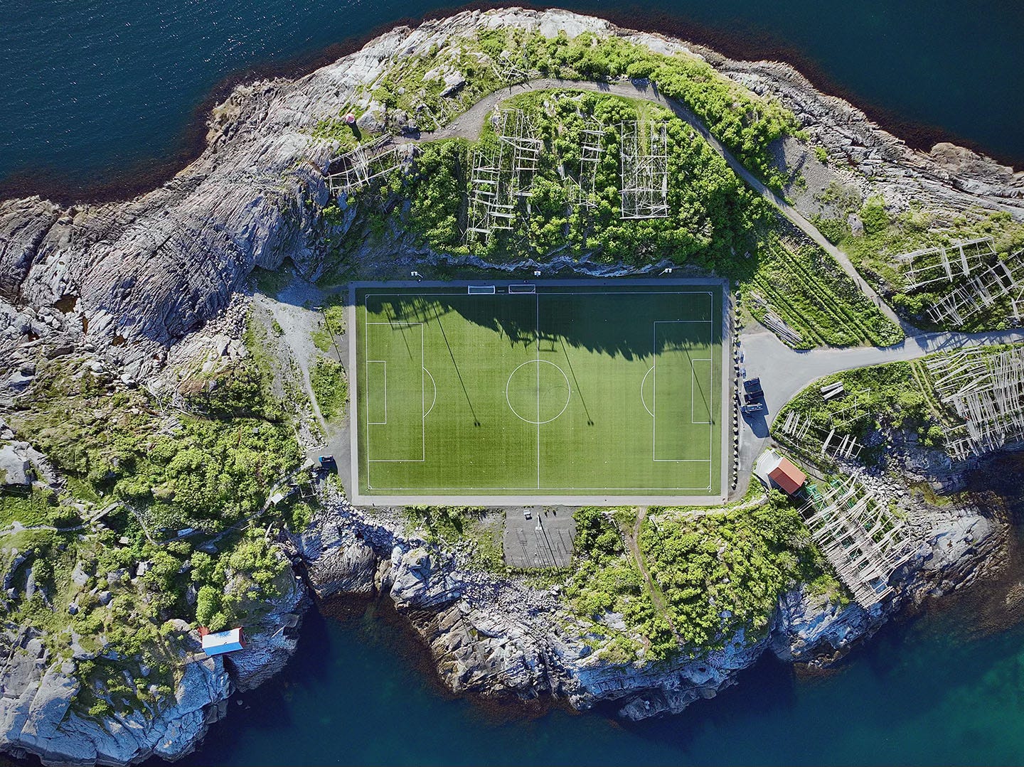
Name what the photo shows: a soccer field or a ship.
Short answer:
soccer field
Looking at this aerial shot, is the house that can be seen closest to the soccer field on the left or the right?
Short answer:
right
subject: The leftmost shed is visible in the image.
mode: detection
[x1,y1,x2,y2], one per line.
[199,625,247,655]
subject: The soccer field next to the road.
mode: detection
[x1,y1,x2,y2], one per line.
[349,279,729,505]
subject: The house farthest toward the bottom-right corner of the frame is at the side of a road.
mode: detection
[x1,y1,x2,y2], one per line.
[755,447,807,495]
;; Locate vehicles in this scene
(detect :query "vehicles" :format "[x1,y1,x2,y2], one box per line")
[740,403,766,414]
[744,379,762,389]
[745,391,765,401]
[318,456,333,463]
